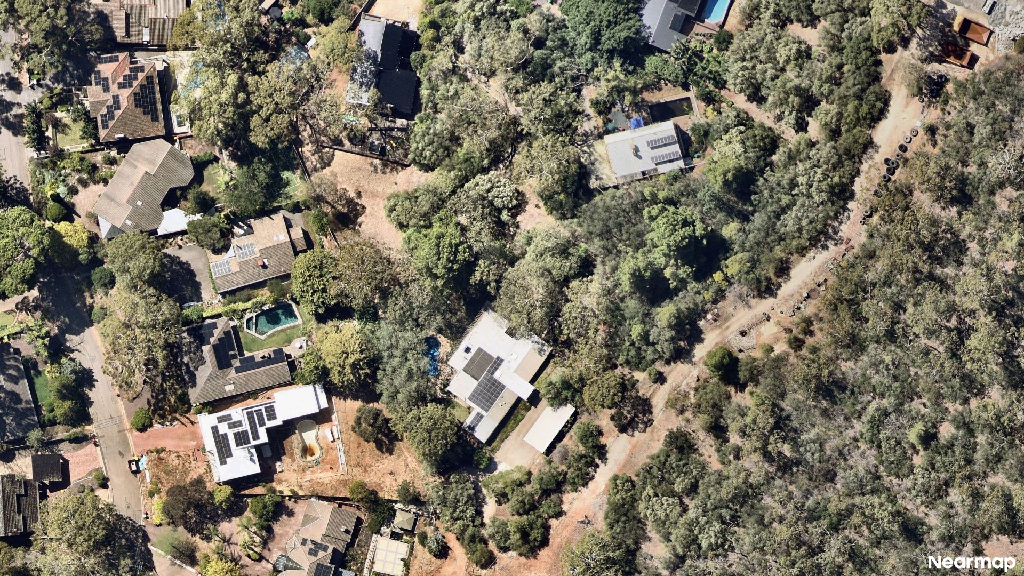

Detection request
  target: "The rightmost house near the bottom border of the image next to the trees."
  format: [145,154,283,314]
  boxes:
[276,498,358,576]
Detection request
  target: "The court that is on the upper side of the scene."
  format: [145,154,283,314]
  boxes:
[252,140,302,205]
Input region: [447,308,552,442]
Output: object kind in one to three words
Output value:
house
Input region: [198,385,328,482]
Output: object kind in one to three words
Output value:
house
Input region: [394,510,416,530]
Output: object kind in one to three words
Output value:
gazebo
